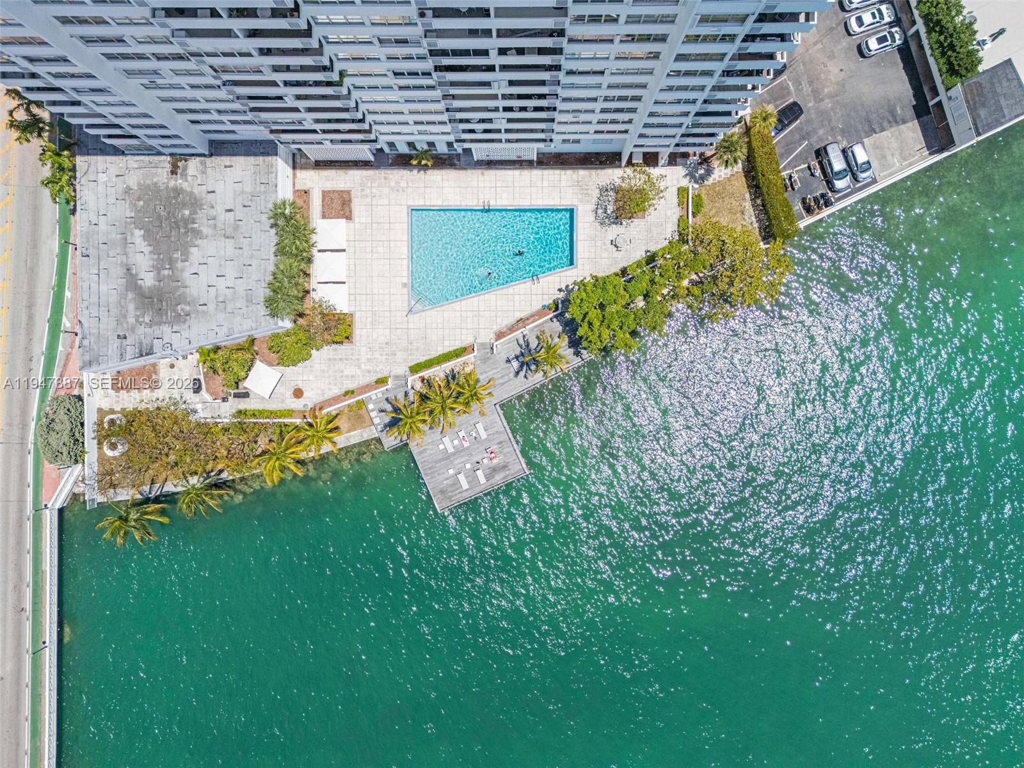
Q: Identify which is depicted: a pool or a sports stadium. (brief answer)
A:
pool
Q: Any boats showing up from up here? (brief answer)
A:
No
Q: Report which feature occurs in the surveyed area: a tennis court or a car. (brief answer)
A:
car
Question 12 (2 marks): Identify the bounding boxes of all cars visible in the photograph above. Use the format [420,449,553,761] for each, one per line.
[858,26,905,59]
[846,5,894,35]
[843,139,873,184]
[772,98,808,141]
[818,142,852,192]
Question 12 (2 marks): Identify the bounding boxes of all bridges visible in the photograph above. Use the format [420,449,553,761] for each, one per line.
[0,453,83,768]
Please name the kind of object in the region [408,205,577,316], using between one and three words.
swimming pool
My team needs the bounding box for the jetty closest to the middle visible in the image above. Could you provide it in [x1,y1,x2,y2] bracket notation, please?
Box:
[363,310,594,512]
